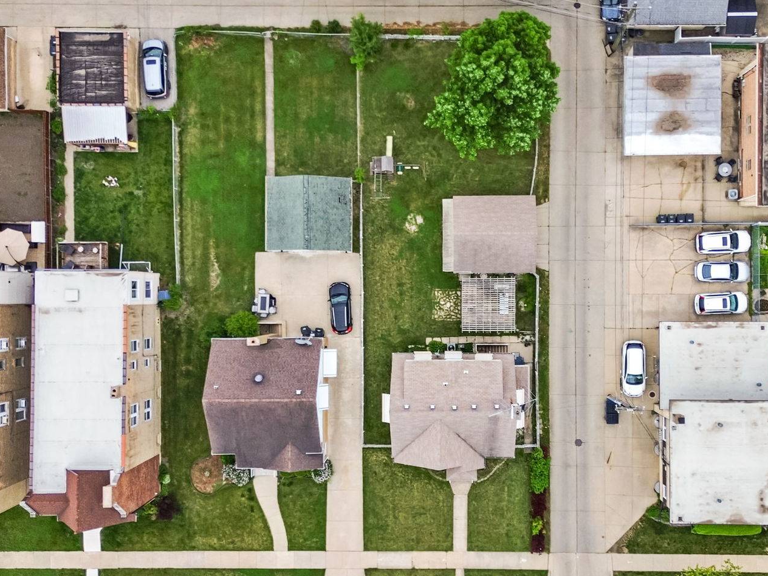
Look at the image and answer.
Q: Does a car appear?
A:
Yes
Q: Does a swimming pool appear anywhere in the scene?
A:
No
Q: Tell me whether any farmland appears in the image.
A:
No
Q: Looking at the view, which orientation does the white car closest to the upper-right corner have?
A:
horizontally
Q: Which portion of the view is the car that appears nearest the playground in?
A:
center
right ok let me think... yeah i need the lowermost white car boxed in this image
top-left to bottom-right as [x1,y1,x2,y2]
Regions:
[620,341,647,394]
